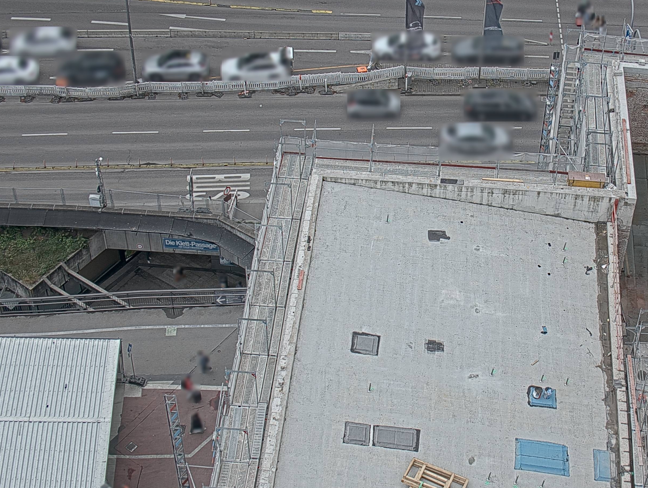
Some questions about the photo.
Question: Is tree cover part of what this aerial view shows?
No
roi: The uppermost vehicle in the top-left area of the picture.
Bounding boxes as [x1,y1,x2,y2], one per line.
[7,24,78,54]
